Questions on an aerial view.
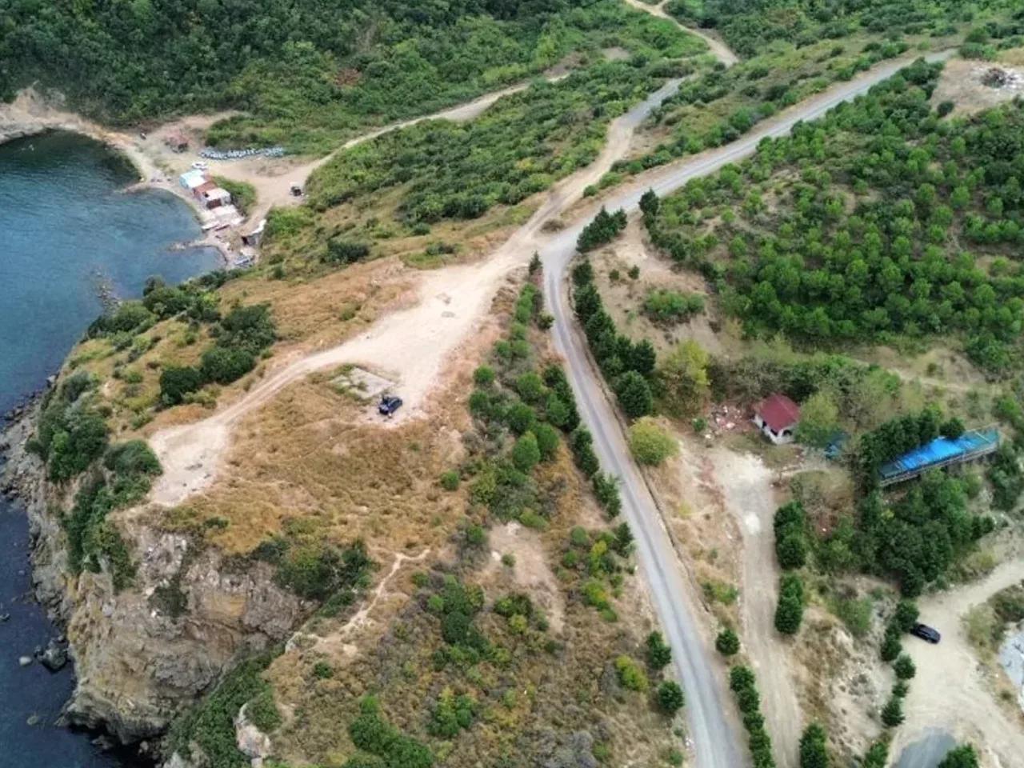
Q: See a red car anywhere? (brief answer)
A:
No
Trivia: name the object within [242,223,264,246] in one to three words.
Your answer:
shed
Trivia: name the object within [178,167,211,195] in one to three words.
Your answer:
shed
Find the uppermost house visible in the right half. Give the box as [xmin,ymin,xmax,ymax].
[750,386,804,442]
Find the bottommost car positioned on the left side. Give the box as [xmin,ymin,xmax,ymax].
[376,393,406,417]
